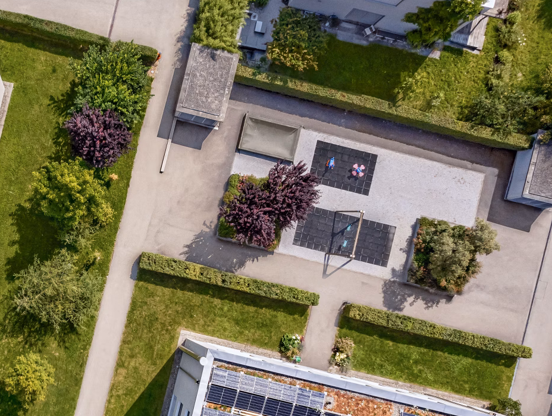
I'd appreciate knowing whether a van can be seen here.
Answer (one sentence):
No, I can't see a single van in this photo.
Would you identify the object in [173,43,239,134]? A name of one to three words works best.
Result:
building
